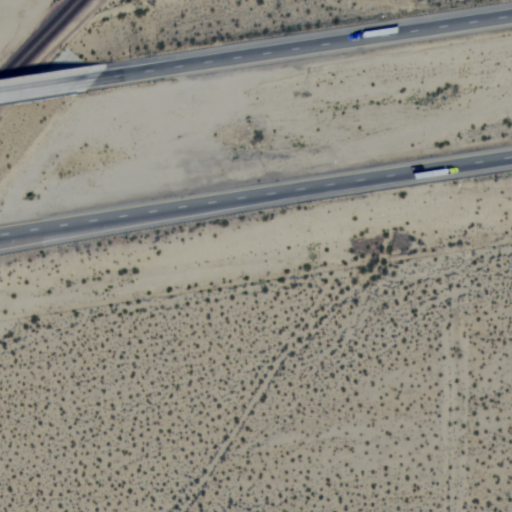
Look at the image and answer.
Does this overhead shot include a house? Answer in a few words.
No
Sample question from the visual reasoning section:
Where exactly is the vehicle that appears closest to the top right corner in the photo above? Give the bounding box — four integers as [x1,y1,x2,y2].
[352,27,398,40]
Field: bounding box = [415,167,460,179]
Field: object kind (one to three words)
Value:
vehicle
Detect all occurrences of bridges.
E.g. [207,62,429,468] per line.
[0,49,108,107]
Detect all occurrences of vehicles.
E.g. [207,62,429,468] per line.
[352,27,398,40]
[415,167,460,179]
[412,166,424,172]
